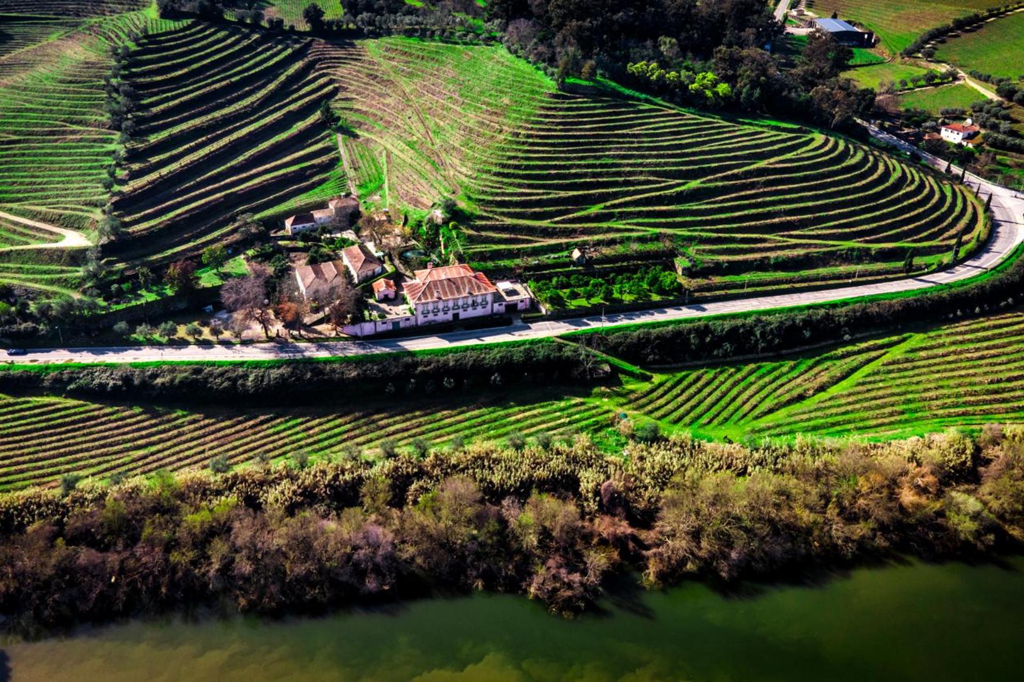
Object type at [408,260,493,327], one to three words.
house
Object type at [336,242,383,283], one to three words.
barn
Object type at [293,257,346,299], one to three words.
barn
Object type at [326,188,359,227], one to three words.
house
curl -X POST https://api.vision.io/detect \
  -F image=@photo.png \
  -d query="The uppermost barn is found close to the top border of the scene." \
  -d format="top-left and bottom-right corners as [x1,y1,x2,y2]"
[823,18,877,47]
